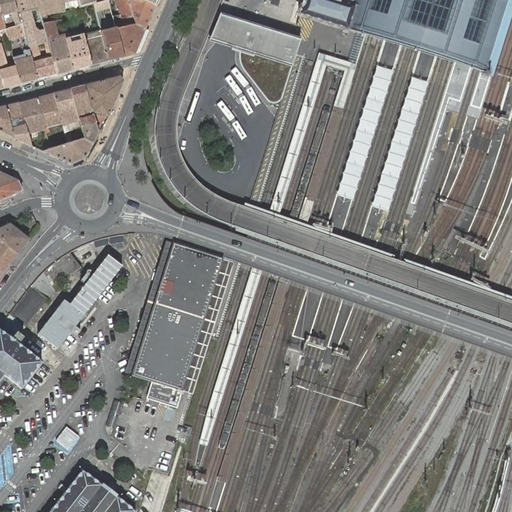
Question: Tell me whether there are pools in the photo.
No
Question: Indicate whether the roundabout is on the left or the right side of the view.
left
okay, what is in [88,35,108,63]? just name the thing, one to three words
house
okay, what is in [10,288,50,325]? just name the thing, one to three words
shed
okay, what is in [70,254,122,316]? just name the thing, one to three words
building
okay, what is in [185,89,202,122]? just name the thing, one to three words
vehicle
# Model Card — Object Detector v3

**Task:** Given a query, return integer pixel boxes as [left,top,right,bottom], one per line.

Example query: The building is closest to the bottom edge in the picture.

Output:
[48,472,136,512]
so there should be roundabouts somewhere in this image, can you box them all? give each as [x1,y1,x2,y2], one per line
[54,164,124,234]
